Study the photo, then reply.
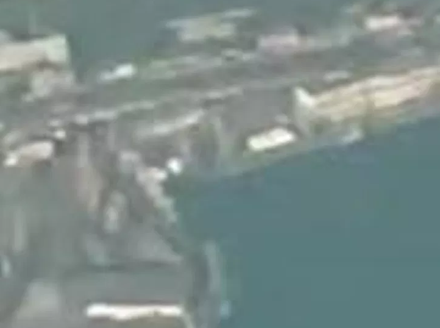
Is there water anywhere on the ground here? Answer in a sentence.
Yes, there is water in the image.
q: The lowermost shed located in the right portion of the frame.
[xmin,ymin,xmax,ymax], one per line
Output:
[246,119,295,151]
